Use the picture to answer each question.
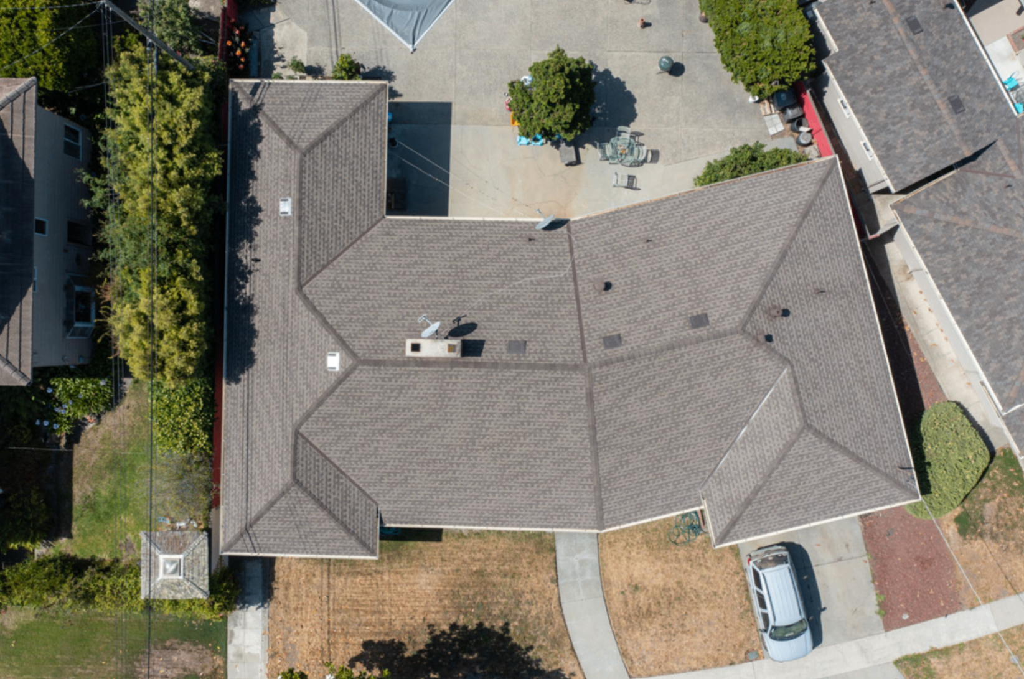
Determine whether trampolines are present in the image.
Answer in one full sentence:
No, there isn't any trampoline down there.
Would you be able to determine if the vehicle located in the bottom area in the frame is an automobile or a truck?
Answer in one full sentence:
The vehicle located in the bottom area appears to be an automobile.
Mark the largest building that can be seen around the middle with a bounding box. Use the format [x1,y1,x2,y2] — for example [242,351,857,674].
[221,80,920,558]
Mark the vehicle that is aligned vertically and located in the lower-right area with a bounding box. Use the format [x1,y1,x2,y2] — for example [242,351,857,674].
[741,540,812,665]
